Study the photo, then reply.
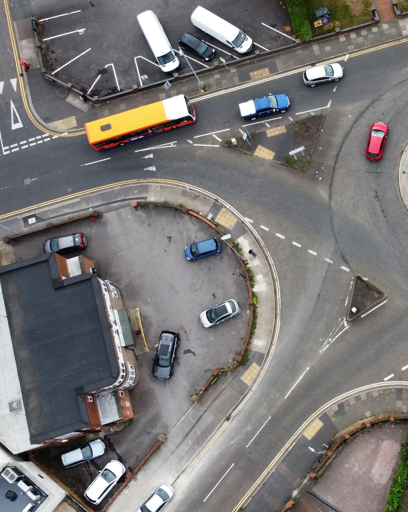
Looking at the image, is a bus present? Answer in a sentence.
Yes, the photo shows a bus.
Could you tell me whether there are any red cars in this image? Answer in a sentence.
Yes, the picture does show a red car.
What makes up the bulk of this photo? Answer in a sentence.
The scene is dominated by paved ground.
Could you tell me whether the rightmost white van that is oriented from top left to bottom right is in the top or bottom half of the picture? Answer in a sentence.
The rightmost white van that is oriented from top left to bottom right sits in the top half of the picture.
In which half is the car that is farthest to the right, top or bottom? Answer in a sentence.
The top half of the photo is where the car that is farthest to the right is.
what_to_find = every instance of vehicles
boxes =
[136,482,176,512]
[137,10,179,74]
[239,94,291,122]
[57,437,110,472]
[192,6,253,55]
[83,460,126,505]
[366,122,388,162]
[151,330,181,380]
[178,29,216,64]
[183,238,225,263]
[44,234,90,254]
[200,302,242,329]
[303,61,344,84]
[85,93,201,152]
